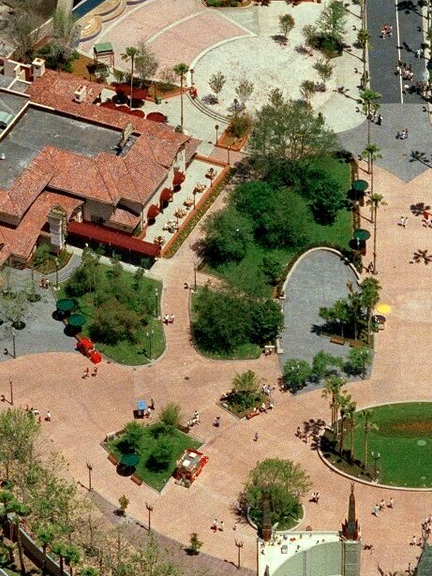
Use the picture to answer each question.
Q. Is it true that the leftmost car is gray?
No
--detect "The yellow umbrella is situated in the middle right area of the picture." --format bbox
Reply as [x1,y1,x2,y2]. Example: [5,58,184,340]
[368,302,389,314]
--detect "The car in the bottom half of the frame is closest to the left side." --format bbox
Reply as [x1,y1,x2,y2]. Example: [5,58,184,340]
[70,330,110,362]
